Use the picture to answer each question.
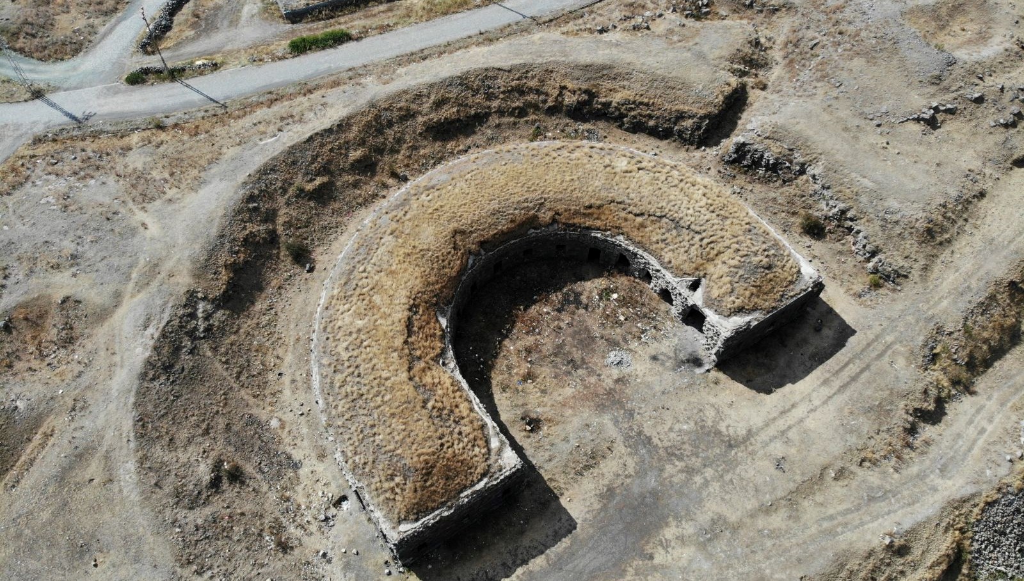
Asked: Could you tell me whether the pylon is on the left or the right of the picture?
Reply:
left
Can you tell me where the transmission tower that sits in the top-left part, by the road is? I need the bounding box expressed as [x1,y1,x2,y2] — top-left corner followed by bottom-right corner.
[0,29,43,99]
